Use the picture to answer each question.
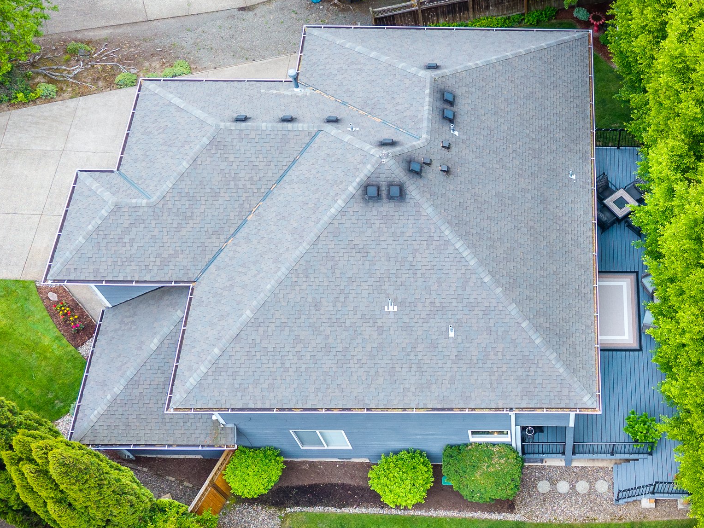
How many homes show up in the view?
1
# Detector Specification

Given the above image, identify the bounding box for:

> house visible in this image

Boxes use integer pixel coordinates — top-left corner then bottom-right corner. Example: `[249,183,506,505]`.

[44,26,602,466]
